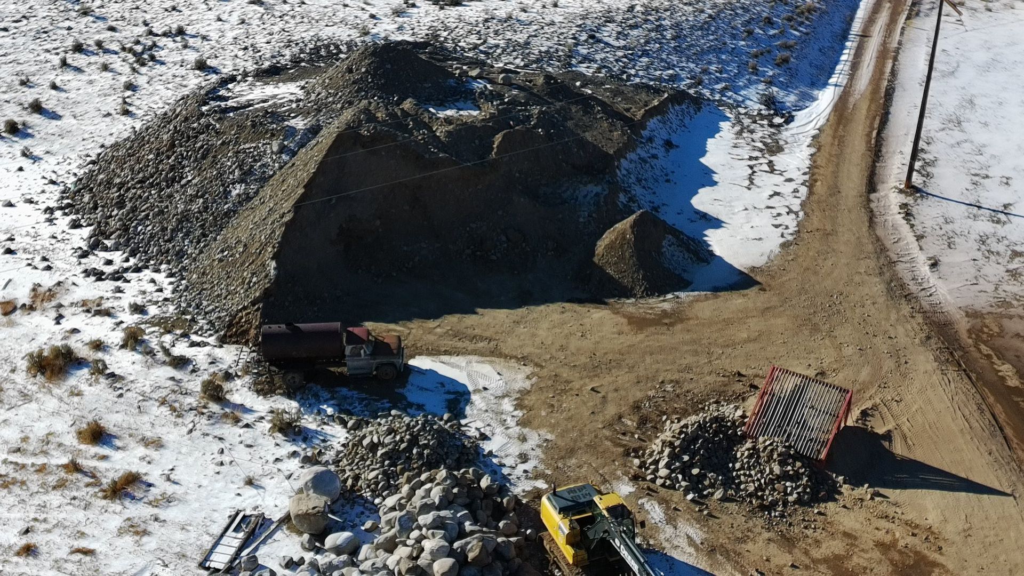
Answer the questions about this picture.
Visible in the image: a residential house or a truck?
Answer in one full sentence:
I can see a truck in this picture.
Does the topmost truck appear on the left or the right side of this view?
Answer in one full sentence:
The topmost truck is on the left side of the image.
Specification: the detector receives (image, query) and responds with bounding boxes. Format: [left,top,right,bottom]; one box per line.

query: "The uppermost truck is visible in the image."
[251,319,410,390]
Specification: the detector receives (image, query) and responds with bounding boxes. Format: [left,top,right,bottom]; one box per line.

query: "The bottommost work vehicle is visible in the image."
[532,480,656,576]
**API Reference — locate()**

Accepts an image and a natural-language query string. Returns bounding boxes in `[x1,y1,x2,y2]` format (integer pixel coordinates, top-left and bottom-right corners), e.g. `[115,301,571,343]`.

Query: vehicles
[532,480,656,576]
[251,319,410,390]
